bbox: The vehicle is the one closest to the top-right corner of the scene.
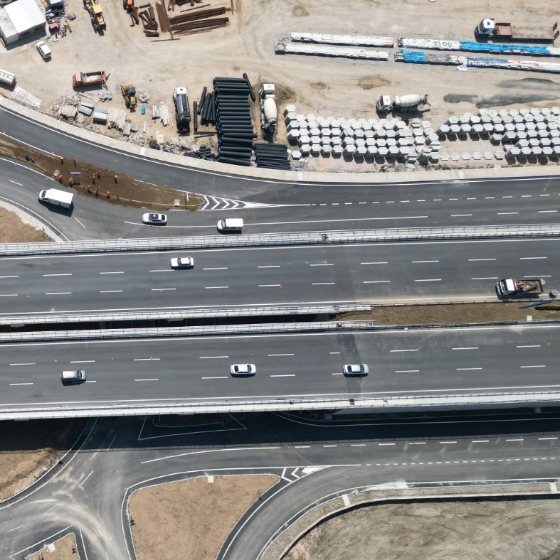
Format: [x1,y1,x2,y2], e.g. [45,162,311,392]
[470,20,560,41]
